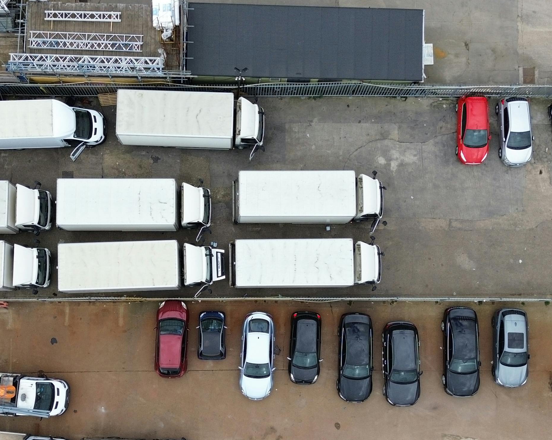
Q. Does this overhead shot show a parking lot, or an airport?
parking lot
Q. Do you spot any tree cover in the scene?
No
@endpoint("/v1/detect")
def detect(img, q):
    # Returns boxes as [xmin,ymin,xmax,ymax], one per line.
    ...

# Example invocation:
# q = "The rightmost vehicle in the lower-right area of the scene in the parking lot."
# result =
[490,310,533,386]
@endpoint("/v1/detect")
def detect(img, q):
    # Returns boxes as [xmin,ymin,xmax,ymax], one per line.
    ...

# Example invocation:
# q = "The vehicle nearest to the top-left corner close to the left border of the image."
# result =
[0,99,107,162]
